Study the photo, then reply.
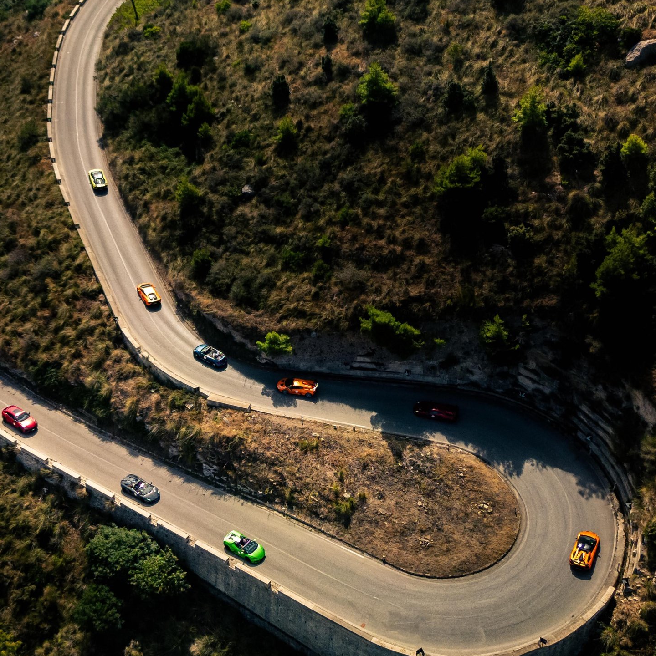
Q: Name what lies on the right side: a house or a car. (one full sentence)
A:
There is a car on the right side.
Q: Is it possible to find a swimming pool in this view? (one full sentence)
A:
No, I find no swimming pool anywhere in the image.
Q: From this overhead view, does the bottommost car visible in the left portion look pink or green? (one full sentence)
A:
From above, the bottommost car visible in the left portion appears green.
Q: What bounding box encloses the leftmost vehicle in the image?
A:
[0,407,39,434]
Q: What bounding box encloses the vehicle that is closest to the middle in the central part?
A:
[277,378,320,397]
